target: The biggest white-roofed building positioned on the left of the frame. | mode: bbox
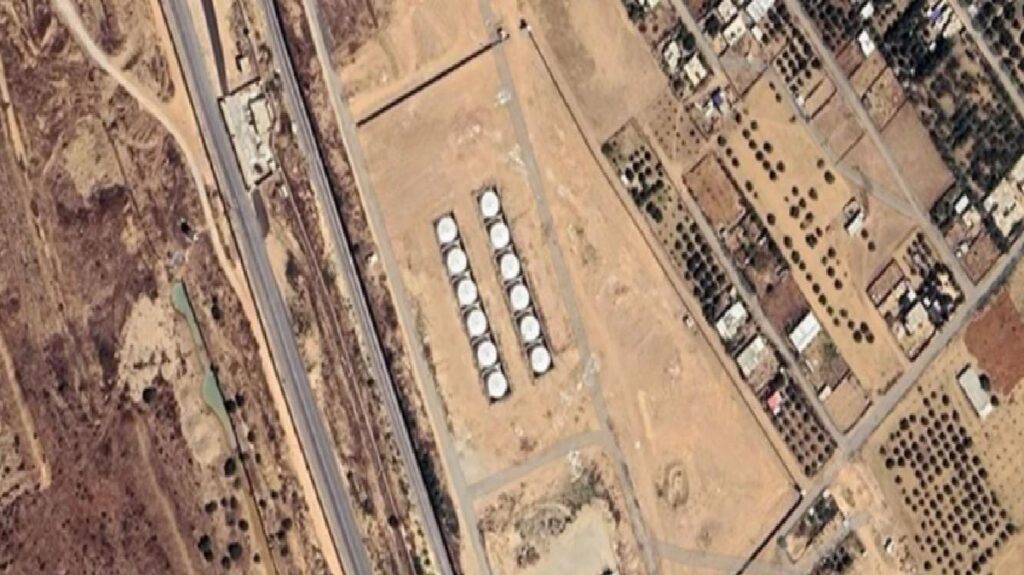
[250,97,271,133]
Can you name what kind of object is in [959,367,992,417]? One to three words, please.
barn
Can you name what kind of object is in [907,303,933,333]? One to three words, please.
house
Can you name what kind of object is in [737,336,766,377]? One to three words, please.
house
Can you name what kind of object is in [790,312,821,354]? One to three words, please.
building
